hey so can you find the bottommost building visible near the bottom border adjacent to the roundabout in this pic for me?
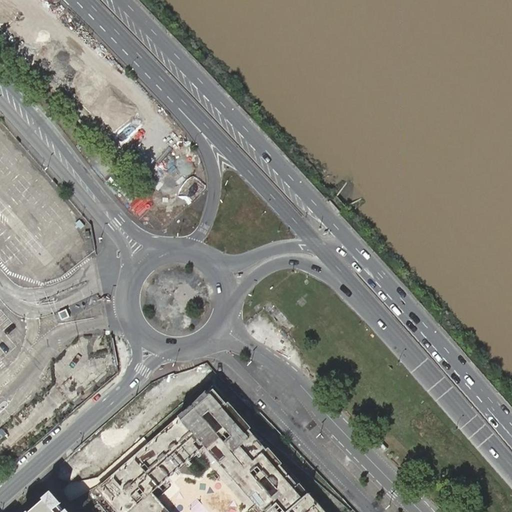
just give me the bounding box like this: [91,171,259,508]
[90,389,325,512]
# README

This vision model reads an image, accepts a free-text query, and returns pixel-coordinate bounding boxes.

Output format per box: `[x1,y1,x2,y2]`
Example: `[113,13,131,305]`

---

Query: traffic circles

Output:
[118,242,234,358]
